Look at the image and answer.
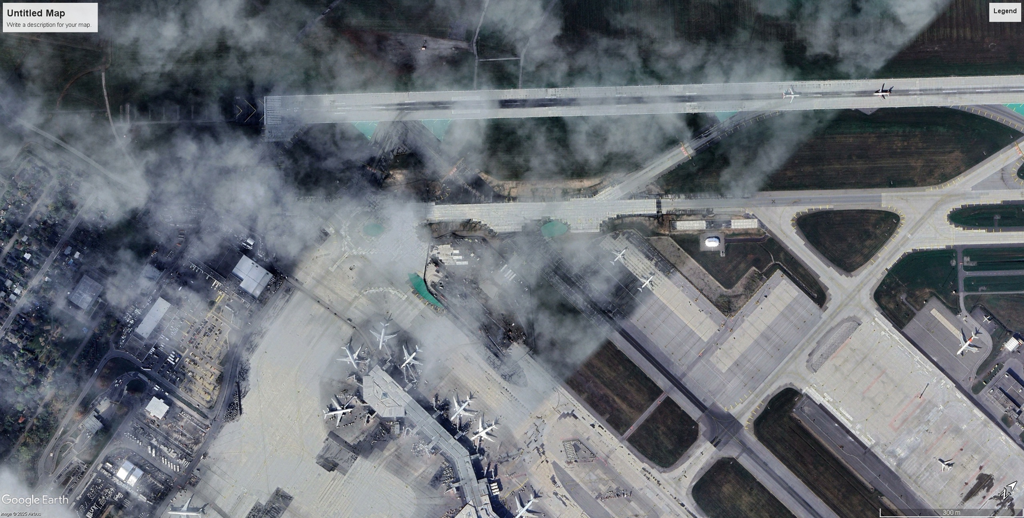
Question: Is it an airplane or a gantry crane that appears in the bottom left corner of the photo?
airplane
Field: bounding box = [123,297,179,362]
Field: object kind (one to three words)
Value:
building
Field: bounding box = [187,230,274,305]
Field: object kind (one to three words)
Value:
building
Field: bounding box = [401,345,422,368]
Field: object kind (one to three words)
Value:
airplane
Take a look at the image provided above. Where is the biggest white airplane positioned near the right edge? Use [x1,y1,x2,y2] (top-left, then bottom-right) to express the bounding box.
[957,328,981,355]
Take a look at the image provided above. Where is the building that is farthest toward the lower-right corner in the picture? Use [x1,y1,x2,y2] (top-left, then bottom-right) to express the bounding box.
[988,372,1024,424]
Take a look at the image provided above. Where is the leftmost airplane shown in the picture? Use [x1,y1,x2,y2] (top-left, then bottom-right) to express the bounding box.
[167,498,201,518]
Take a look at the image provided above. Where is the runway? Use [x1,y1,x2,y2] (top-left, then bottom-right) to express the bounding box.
[236,75,1024,124]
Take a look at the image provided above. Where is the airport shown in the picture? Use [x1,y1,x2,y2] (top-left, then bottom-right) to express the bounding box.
[168,75,1024,518]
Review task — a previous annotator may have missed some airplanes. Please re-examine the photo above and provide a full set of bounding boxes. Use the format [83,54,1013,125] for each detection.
[401,345,422,368]
[939,460,953,471]
[337,343,360,369]
[167,498,201,518]
[609,248,627,265]
[636,276,653,292]
[957,328,981,355]
[783,87,800,102]
[322,399,353,427]
[874,84,891,100]
[471,417,499,442]
[369,321,397,350]
[451,393,475,421]
[514,494,539,518]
